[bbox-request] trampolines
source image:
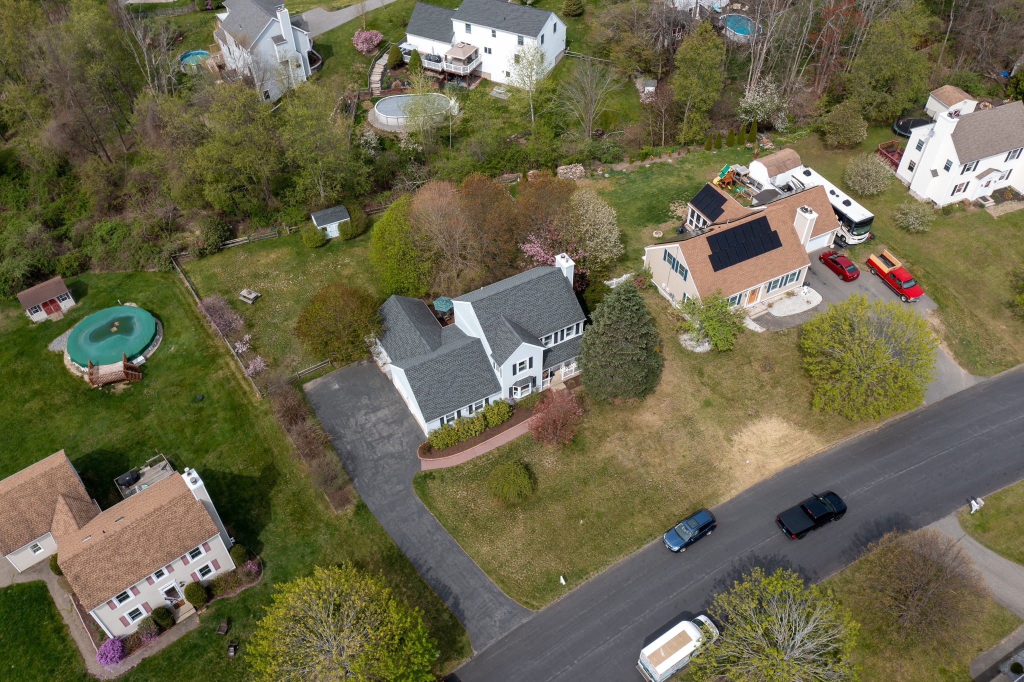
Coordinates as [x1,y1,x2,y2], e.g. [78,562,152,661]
[892,107,935,141]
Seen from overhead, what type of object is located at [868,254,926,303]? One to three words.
truck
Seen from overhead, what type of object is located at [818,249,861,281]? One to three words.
car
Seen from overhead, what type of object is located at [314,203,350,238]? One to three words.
shed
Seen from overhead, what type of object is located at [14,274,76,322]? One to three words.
shed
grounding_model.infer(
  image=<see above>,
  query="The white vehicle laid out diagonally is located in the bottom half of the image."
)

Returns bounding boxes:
[632,614,722,682]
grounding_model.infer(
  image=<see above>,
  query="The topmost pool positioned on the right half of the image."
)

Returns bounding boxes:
[719,13,759,44]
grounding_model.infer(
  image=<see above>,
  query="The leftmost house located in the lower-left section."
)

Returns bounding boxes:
[0,448,233,639]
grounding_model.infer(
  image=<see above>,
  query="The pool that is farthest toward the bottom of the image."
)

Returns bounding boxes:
[64,304,160,374]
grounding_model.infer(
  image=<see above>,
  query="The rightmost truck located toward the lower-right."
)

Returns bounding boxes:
[777,491,853,540]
